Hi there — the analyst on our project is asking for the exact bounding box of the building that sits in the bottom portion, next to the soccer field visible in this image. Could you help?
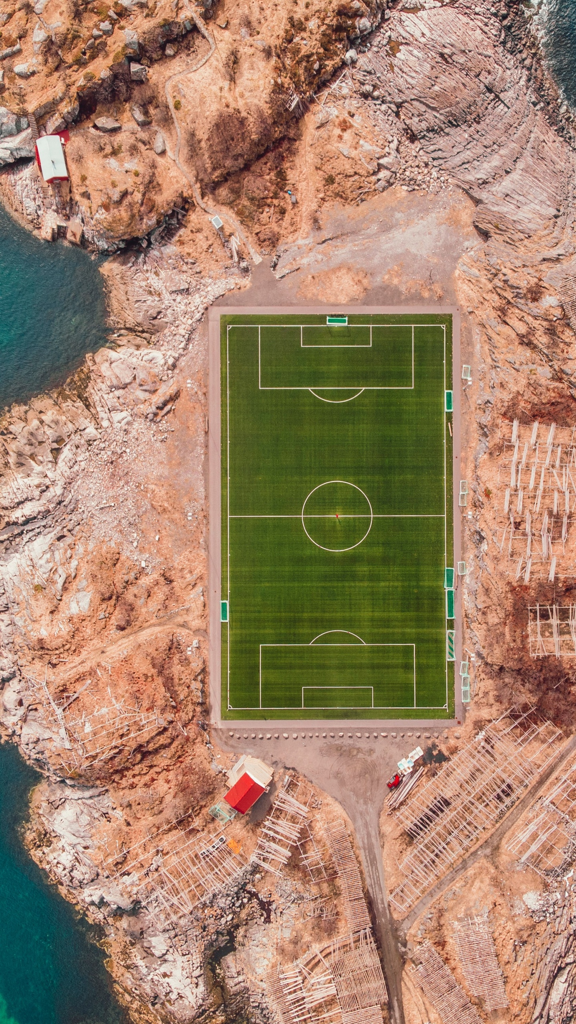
[224,754,275,814]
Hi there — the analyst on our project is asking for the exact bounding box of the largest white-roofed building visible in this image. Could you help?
[35,134,70,183]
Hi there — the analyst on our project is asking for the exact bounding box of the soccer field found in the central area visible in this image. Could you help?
[209,306,462,728]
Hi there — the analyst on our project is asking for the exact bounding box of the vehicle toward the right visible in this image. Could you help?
[386,773,401,788]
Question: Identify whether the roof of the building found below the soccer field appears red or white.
red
